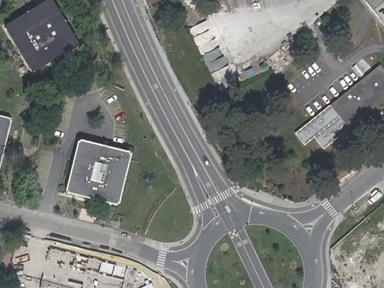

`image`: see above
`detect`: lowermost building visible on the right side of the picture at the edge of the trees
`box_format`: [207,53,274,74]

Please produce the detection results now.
[295,106,345,150]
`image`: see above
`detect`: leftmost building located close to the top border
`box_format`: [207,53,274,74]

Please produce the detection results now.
[5,0,78,70]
